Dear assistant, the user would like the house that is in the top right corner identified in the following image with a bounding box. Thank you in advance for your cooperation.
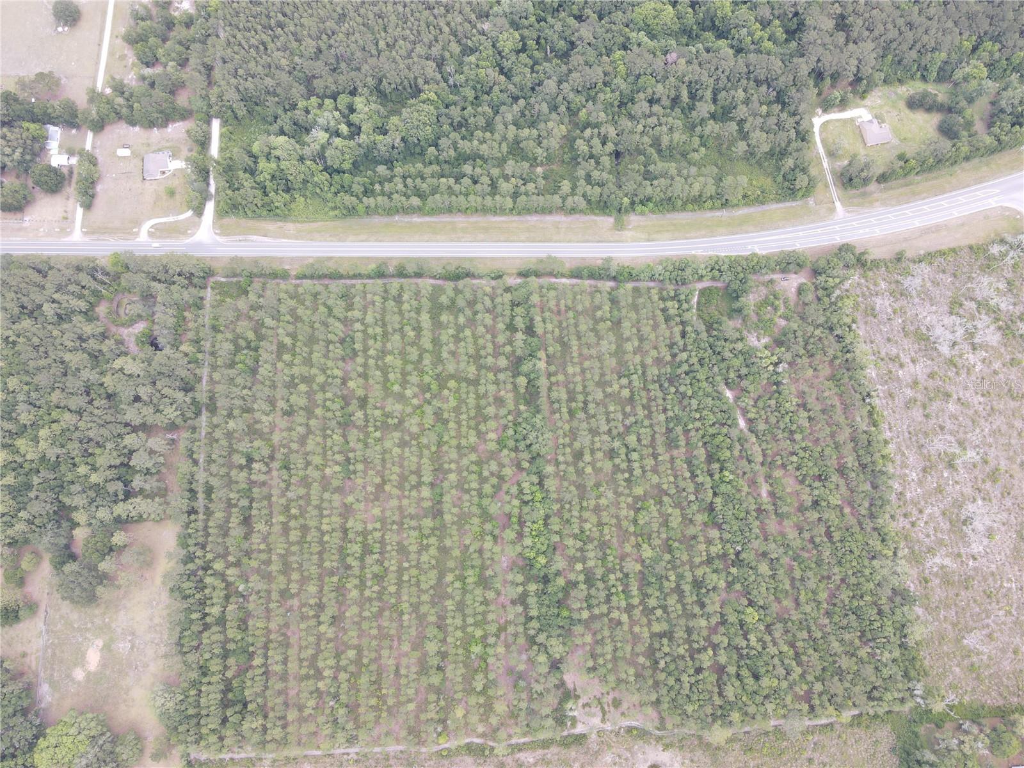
[857,113,894,148]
